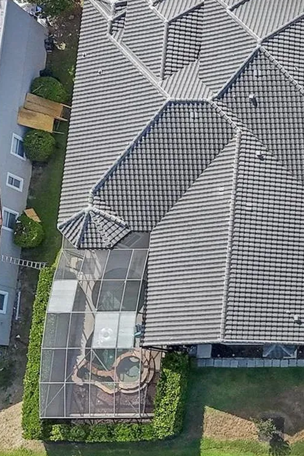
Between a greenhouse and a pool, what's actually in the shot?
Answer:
pool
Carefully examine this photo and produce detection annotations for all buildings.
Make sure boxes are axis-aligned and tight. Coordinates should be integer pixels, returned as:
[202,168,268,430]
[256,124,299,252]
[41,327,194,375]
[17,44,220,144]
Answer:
[0,0,58,342]
[56,0,304,357]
